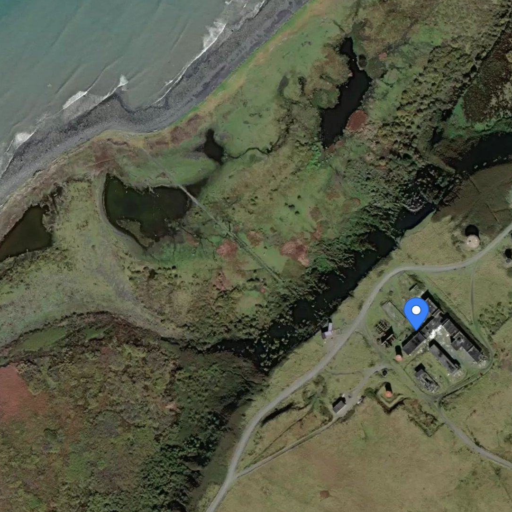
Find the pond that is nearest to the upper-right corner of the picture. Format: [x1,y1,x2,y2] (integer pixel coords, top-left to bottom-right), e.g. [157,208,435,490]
[319,34,375,149]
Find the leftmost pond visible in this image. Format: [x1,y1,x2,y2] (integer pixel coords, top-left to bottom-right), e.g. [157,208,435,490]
[0,206,56,263]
